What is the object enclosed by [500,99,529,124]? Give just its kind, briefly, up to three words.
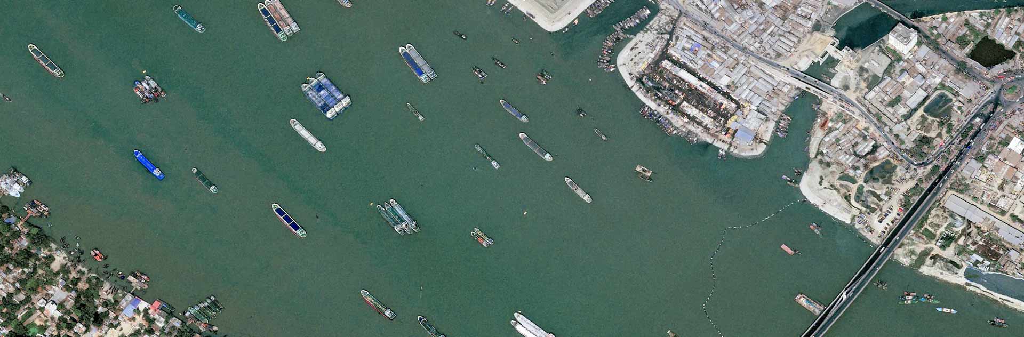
ship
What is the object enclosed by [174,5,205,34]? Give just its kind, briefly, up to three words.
ship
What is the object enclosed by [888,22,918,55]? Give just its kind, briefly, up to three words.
building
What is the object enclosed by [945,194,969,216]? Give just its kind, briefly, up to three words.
building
